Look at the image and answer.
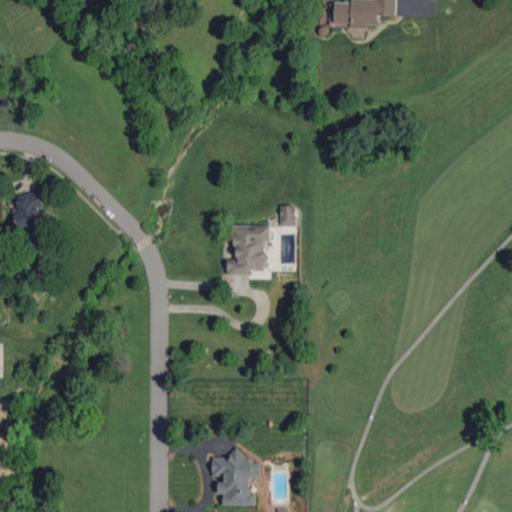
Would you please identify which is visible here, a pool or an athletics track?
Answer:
pool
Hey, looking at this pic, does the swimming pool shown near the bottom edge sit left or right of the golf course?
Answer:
to its left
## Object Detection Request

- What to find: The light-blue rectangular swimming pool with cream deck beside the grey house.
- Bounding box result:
[264,461,290,506]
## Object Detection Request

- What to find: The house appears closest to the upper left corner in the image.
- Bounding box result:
[10,192,44,228]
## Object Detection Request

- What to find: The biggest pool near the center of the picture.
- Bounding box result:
[250,226,296,280]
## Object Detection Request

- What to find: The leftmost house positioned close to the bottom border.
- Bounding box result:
[212,448,260,507]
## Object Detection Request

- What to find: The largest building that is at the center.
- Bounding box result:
[226,226,270,276]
